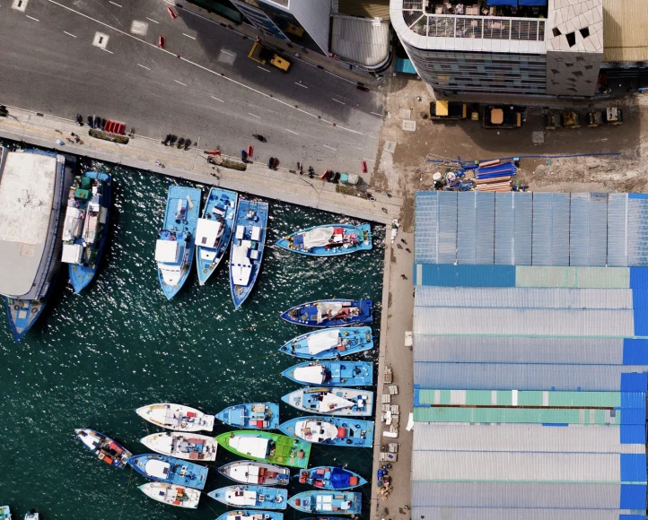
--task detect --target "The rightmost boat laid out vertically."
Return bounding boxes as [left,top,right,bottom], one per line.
[227,199,269,309]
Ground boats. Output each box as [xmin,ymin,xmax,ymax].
[139,432,220,461]
[280,360,374,387]
[74,429,134,469]
[279,299,374,328]
[278,416,376,447]
[217,460,292,487]
[59,169,120,293]
[287,491,364,516]
[193,186,240,285]
[215,402,282,431]
[24,511,41,520]
[227,199,269,309]
[278,326,376,359]
[134,403,219,435]
[280,387,374,418]
[0,505,15,520]
[299,466,367,492]
[217,509,286,520]
[136,482,203,511]
[215,431,313,469]
[207,485,290,512]
[125,456,211,491]
[274,222,374,258]
[155,185,202,300]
